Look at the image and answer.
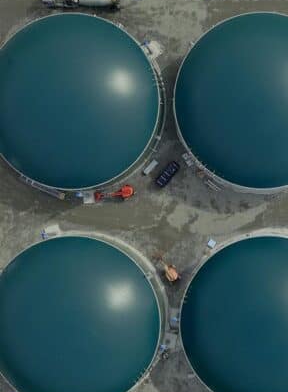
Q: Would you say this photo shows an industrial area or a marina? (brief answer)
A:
industrial area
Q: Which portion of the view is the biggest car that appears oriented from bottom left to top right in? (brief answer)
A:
center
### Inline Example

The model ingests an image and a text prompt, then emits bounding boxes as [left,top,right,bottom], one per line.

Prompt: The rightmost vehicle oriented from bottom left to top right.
[154,161,181,188]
